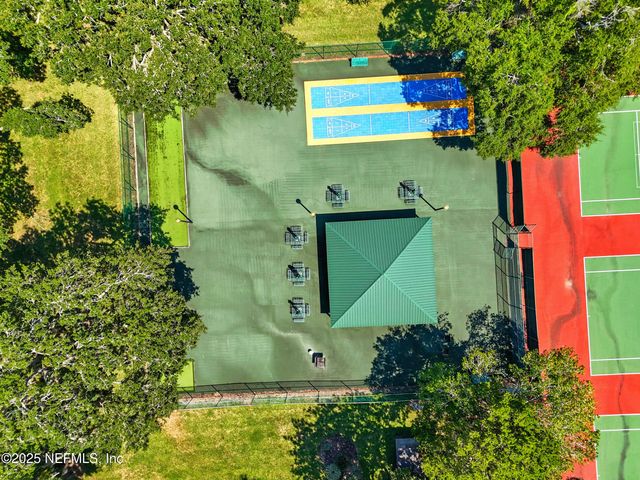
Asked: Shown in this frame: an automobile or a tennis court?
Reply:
tennis court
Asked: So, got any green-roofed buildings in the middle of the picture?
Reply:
Yes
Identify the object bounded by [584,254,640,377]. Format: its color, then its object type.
green tennis court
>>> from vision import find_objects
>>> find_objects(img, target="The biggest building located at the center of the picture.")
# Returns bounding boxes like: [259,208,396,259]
[324,215,438,329]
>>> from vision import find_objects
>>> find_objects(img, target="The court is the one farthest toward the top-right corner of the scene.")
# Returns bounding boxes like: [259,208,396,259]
[577,94,640,217]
